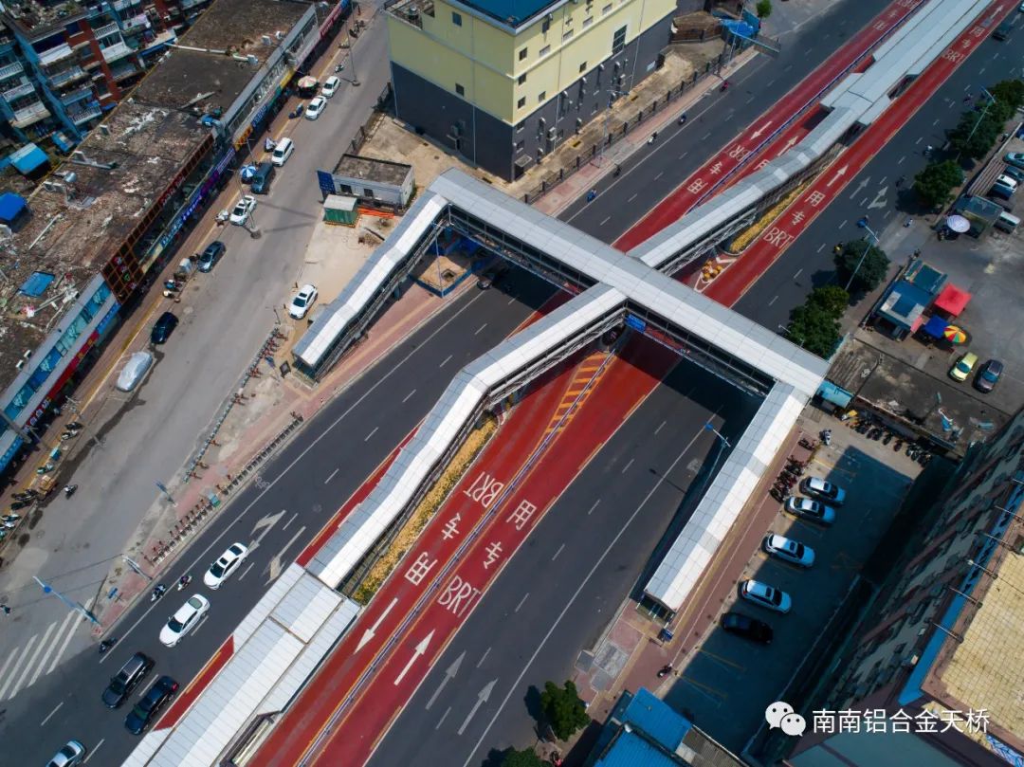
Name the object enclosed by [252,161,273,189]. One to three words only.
vehicle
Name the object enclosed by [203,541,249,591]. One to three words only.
car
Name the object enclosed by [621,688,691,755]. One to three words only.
shed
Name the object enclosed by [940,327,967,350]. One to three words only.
umbrella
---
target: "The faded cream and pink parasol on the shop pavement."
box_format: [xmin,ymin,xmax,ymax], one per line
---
[297,78,320,98]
